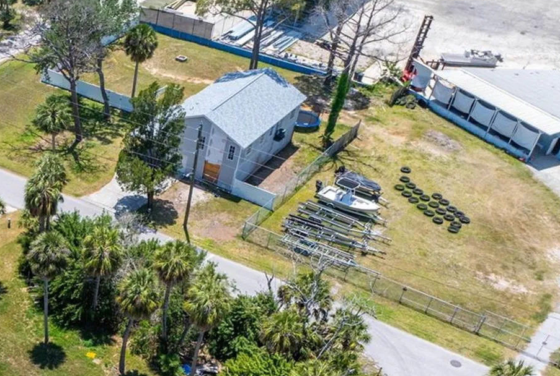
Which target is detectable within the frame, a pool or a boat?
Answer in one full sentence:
Looking from above, you can make out a boat.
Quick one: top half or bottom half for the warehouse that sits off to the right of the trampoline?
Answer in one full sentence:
It is in the top half that the warehouse that sits off to the right of the trampoline appears.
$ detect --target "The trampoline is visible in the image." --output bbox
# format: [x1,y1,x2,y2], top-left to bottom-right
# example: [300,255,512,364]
[296,113,324,130]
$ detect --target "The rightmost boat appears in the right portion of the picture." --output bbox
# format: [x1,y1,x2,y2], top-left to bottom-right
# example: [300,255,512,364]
[440,50,504,67]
